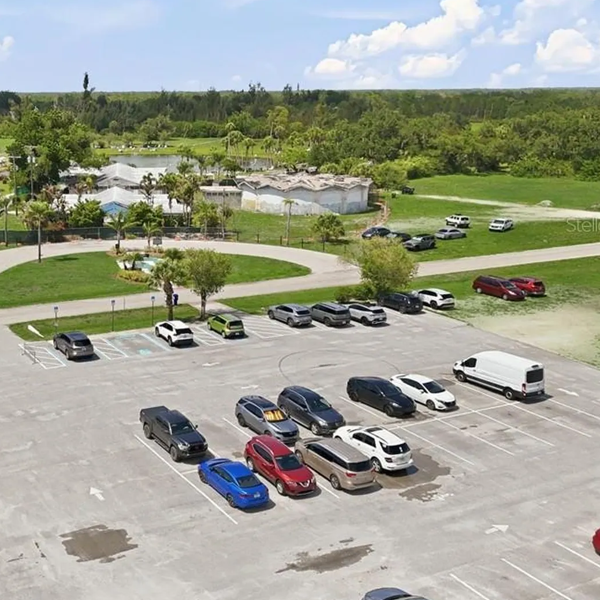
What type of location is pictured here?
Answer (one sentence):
The area seen from above is a parking lot.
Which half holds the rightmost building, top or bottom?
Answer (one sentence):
The rightmost building is in the top half of the image.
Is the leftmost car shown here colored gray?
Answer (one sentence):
Yes, the leftmost car is indeed gray.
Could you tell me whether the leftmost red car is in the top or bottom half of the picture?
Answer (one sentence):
Seen from above, the leftmost red car lies in the bottom half of the view.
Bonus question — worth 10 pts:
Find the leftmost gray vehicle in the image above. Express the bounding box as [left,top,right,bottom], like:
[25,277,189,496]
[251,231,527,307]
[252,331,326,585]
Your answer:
[53,331,93,361]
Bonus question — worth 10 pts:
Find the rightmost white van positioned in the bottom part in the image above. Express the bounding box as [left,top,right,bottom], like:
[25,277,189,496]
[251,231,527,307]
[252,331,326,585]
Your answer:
[451,347,546,401]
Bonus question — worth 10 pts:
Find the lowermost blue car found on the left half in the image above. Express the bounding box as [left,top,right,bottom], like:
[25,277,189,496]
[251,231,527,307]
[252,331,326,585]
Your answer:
[197,458,272,511]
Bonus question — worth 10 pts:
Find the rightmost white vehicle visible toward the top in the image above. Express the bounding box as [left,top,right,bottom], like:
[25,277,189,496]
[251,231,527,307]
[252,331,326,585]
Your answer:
[490,216,512,232]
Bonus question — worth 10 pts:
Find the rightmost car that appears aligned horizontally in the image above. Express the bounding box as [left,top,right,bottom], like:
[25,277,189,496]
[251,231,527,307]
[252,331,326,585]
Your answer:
[504,275,551,296]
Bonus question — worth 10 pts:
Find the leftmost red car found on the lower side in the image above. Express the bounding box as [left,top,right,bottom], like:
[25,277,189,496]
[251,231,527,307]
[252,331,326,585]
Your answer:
[243,436,318,496]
